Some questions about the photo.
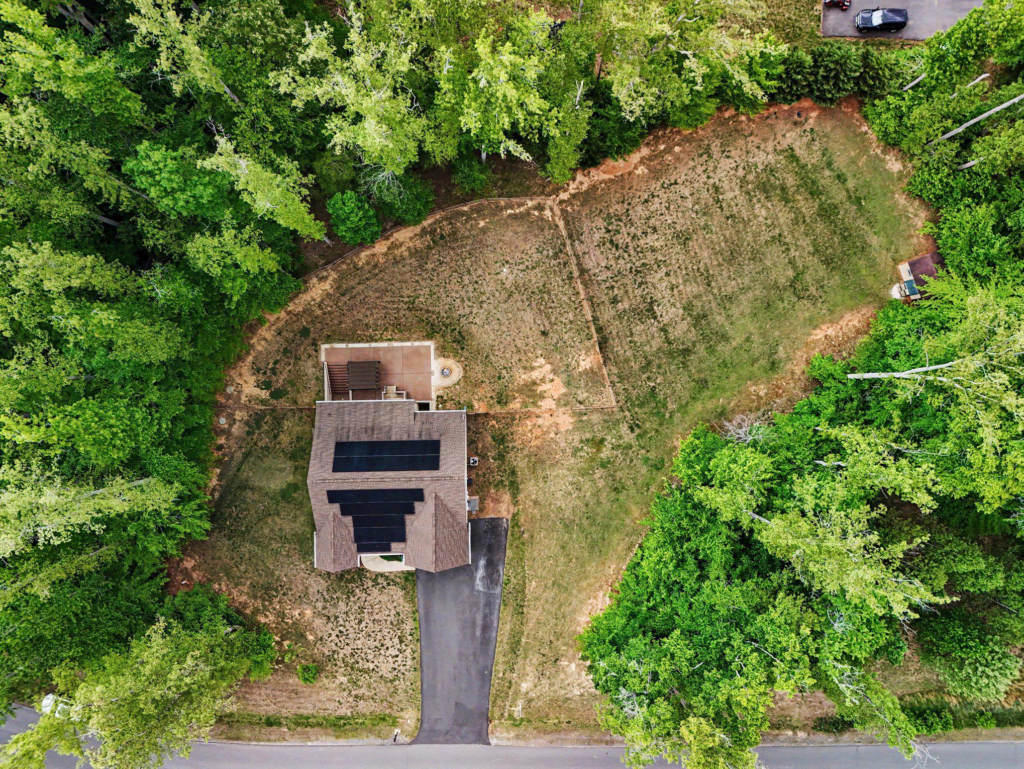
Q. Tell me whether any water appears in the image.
No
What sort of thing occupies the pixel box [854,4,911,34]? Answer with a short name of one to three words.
car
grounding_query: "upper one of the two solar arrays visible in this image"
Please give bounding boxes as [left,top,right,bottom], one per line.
[332,441,440,473]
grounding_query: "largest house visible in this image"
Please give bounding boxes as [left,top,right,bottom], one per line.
[307,399,473,573]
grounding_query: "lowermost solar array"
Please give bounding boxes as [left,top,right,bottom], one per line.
[327,488,423,552]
